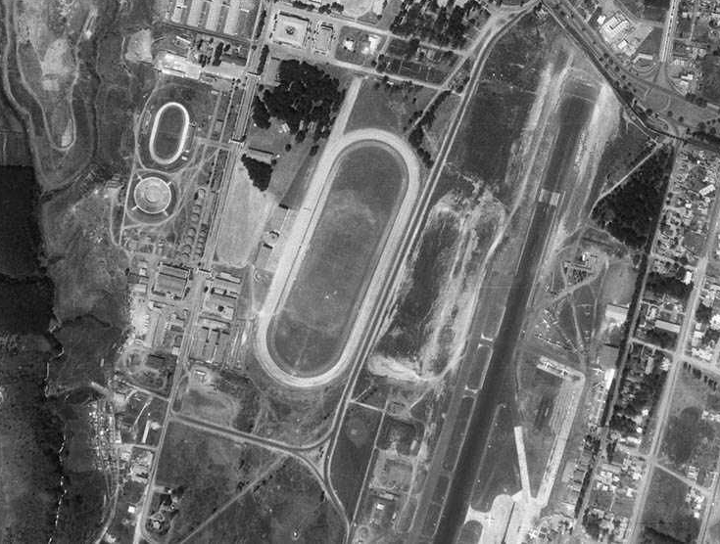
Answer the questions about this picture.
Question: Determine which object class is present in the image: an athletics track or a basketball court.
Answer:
athletics track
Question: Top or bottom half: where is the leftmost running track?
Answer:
top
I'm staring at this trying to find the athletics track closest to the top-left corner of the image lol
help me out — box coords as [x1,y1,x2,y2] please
[150,102,189,164]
